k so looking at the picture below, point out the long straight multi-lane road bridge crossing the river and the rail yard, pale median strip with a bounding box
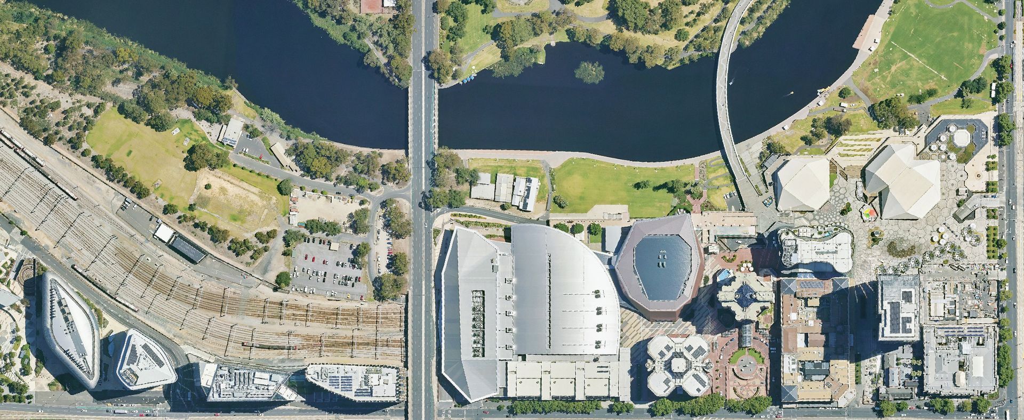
[408,0,439,420]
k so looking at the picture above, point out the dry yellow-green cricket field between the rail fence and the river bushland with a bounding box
[87,107,291,240]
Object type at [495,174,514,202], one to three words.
shed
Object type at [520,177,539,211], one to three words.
shed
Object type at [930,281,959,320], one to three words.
building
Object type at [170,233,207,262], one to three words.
building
